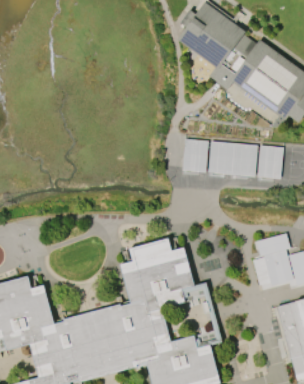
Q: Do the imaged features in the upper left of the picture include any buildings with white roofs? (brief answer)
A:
No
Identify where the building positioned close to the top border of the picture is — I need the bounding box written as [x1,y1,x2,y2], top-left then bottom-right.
[182,0,304,124]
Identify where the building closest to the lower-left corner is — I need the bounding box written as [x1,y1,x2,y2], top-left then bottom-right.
[0,238,221,384]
